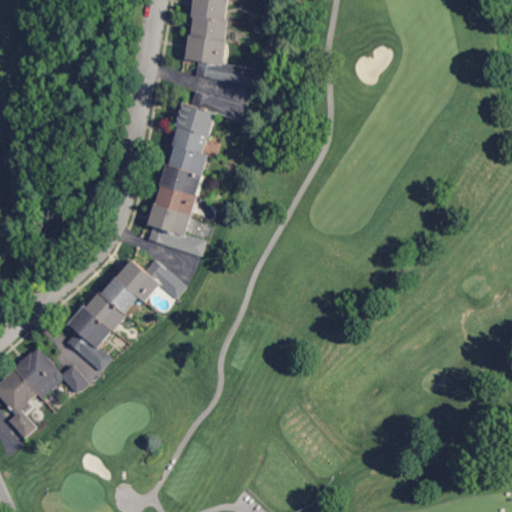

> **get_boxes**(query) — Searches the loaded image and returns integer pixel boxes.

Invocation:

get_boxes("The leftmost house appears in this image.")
[0,372,38,437]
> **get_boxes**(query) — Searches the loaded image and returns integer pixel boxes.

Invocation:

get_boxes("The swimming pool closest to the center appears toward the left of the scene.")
[150,286,175,314]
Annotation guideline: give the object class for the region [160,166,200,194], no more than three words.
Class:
house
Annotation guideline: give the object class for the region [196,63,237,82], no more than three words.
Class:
building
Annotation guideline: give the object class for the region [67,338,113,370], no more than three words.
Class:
building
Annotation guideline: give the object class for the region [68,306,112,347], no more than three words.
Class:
house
